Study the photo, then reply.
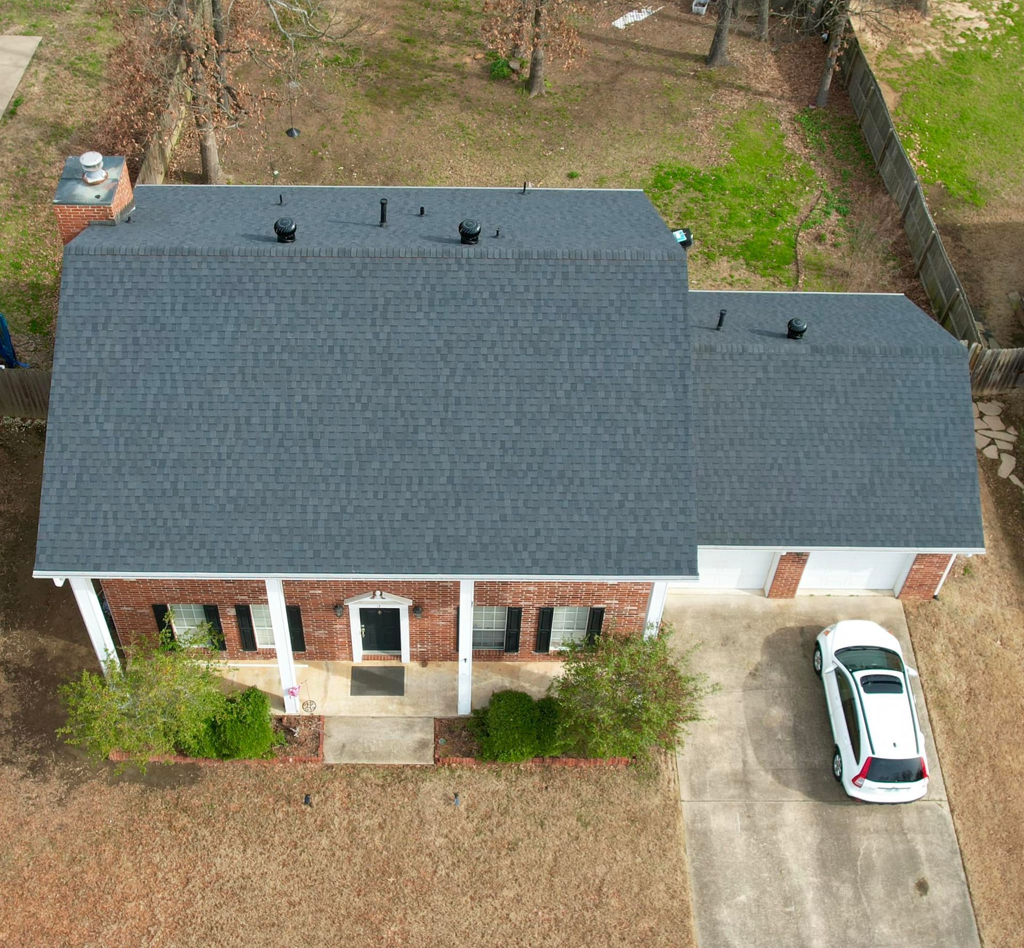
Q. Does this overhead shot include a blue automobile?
No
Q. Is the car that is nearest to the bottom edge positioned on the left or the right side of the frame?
right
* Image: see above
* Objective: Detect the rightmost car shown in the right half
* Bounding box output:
[813,616,936,807]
